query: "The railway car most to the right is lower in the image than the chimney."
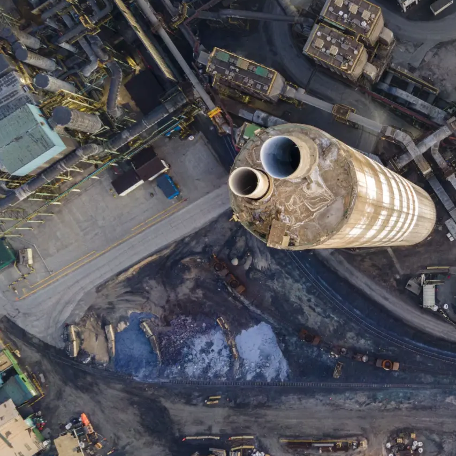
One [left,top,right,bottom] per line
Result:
[375,359,402,372]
